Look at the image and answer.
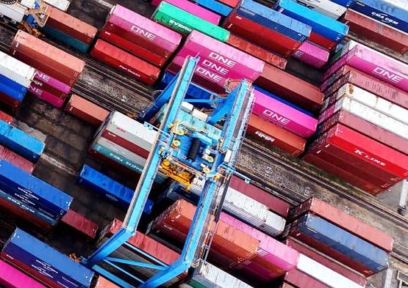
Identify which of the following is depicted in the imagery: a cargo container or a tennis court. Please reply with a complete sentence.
Looking from above, you can make out a cargo container.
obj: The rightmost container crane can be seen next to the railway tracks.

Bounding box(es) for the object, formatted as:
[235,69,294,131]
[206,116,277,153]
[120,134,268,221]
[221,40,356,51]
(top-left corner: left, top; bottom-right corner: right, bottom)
[59,48,259,288]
